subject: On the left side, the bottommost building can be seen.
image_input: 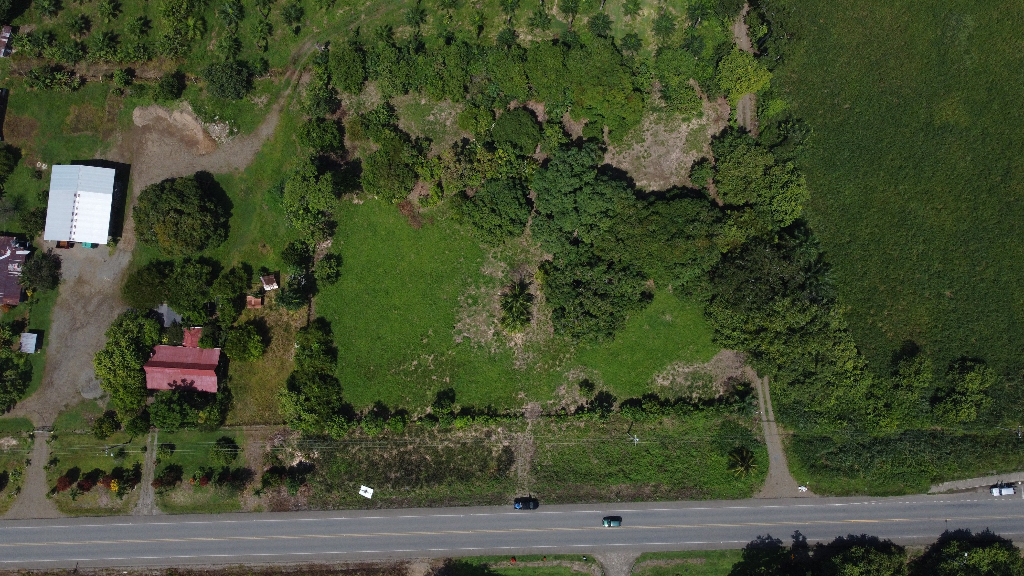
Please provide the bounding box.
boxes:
[143,344,223,392]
